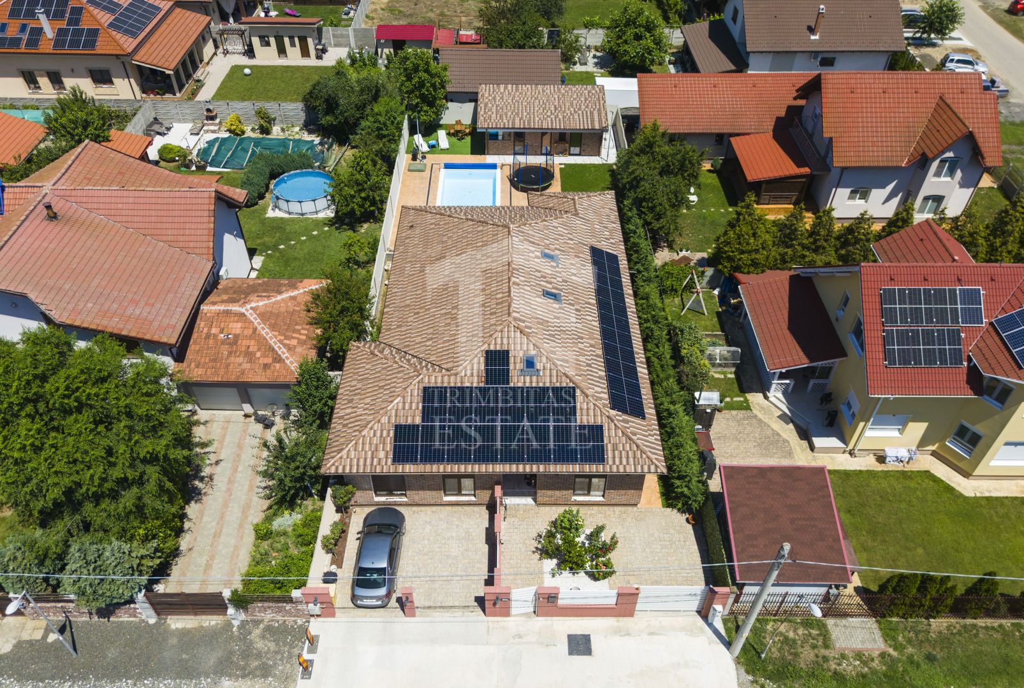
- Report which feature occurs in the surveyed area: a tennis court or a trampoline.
trampoline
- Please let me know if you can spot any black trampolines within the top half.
Yes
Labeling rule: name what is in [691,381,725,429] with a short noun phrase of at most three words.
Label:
shed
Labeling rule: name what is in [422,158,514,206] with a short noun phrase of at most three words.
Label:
swimming pool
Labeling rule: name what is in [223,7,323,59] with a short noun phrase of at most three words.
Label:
shed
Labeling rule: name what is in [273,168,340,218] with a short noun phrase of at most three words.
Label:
swimming pool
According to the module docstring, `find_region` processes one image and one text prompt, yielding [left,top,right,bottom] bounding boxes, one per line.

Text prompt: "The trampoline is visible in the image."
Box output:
[509,140,554,190]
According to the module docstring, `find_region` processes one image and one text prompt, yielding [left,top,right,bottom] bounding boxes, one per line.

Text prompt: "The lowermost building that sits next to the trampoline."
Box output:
[319,189,669,514]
